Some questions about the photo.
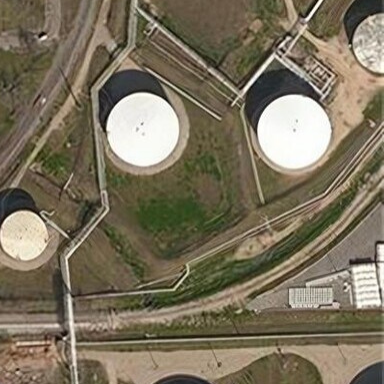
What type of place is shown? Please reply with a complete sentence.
This looks like an industrial area.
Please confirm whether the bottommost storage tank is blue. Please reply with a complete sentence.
No, the bottommost storage tank is white.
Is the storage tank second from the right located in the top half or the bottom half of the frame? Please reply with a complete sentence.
The top half of the photo is where the storage tank second from the right is.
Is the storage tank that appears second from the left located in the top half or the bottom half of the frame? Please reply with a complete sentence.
Seen from above, the storage tank that appears second from the left lies in the top half of the view.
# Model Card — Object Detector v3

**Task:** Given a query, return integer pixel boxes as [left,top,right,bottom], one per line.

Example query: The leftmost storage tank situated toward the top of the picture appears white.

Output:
[105,91,181,167]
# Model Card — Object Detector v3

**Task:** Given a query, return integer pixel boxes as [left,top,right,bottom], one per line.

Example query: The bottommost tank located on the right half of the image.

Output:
[256,94,334,170]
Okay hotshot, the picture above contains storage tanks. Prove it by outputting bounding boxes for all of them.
[105,91,181,167]
[256,94,334,170]
[351,12,384,76]
[0,208,50,261]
